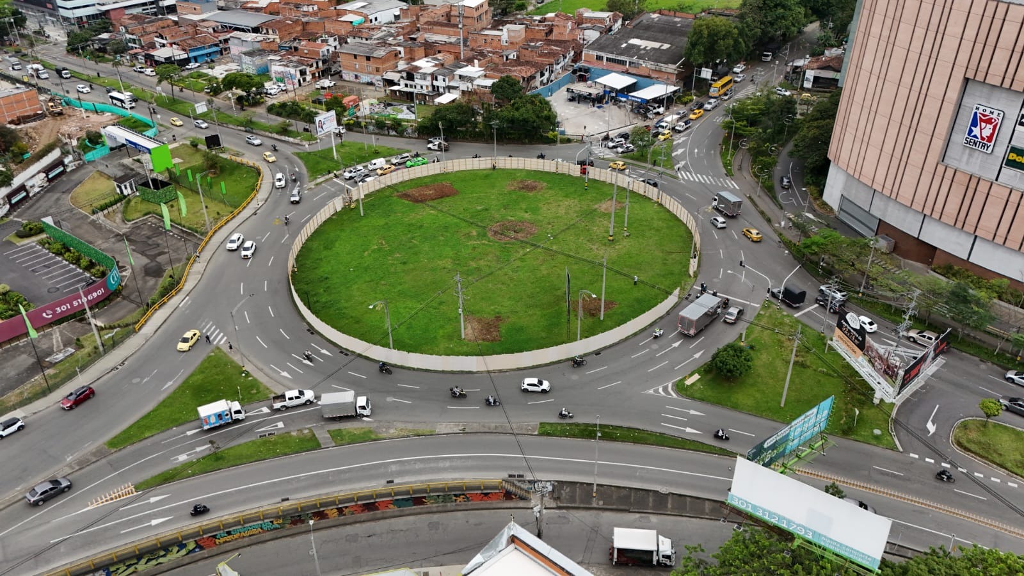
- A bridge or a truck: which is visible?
truck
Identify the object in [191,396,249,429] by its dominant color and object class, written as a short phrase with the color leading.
white truck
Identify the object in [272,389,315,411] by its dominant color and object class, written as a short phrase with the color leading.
white truck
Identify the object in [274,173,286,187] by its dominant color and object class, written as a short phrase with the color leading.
white vehicle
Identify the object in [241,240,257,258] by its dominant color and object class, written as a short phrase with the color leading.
white car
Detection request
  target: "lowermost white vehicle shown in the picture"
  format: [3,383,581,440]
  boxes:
[607,526,676,563]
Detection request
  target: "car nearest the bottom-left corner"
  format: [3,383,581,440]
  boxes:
[25,478,73,508]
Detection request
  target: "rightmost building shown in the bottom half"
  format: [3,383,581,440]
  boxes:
[457,512,591,576]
